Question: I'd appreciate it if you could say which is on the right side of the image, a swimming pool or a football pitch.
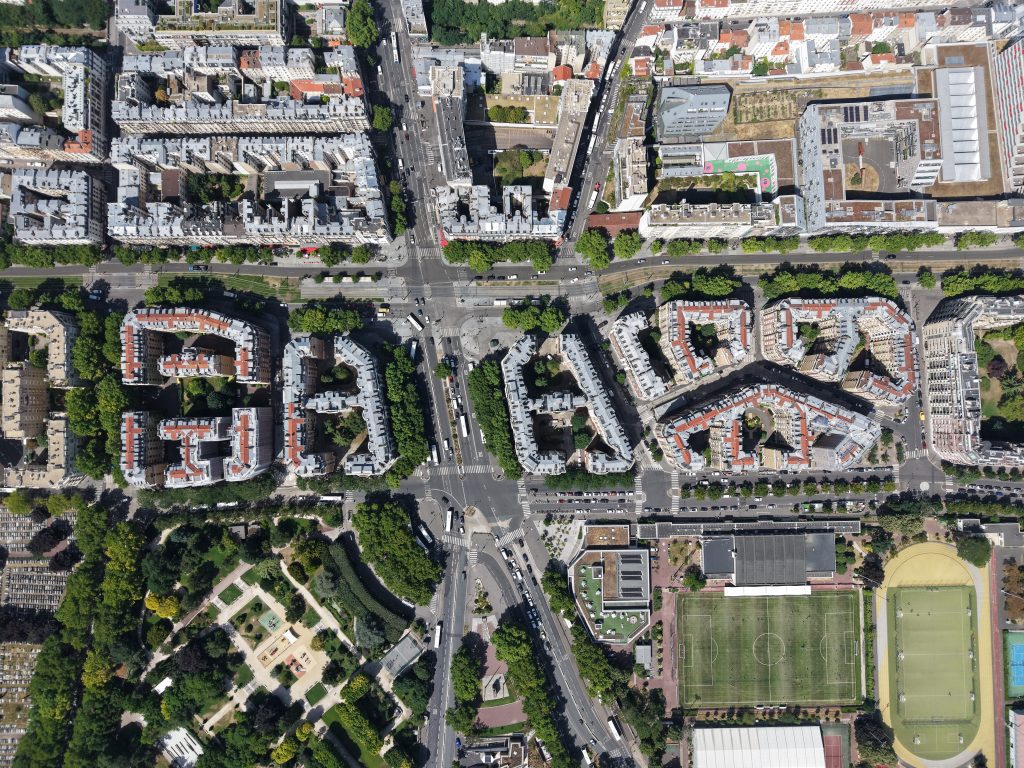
football pitch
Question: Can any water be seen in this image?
No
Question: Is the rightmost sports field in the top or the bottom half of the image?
bottom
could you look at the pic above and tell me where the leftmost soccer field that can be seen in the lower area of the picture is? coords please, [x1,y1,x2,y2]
[677,589,864,709]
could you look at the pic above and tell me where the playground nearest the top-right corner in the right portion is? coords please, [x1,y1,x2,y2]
[703,155,778,195]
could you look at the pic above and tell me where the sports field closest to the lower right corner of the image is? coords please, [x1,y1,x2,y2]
[876,542,993,768]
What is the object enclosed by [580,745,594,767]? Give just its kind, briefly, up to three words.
vehicle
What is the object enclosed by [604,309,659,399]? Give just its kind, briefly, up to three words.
building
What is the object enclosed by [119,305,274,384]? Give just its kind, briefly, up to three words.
building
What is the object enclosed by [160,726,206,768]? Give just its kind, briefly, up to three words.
greenhouse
